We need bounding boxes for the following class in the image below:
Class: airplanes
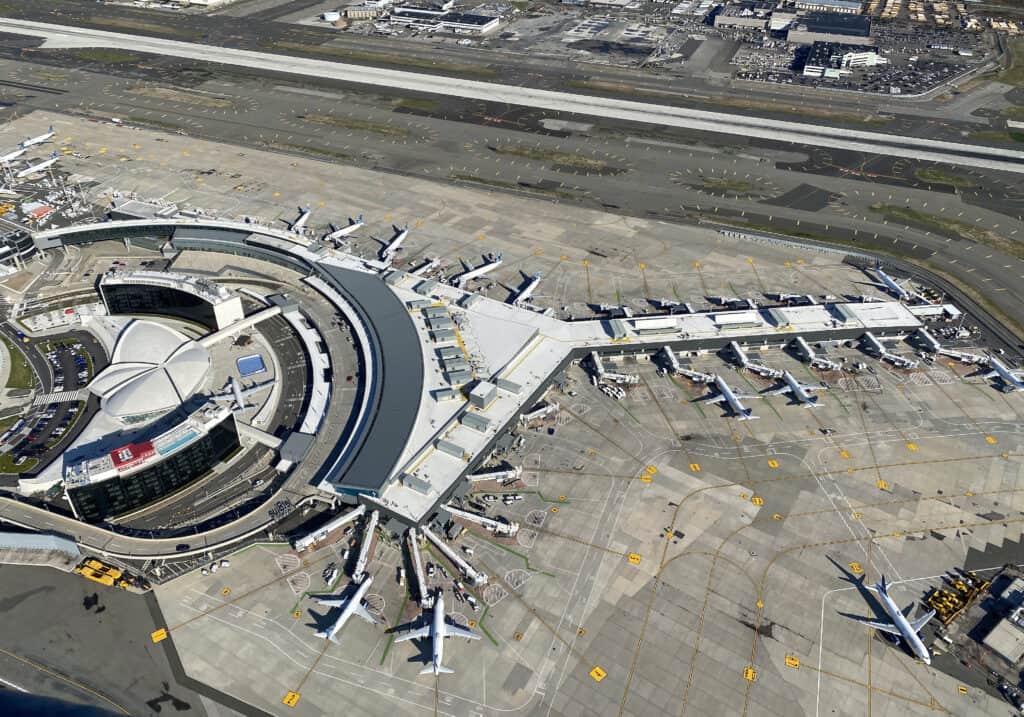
[704,375,763,419]
[206,377,266,412]
[316,579,381,645]
[983,359,1024,391]
[286,206,318,228]
[326,217,368,241]
[869,262,912,299]
[0,143,30,163]
[0,185,17,199]
[375,223,420,258]
[460,252,507,282]
[396,593,480,676]
[18,151,61,177]
[773,371,830,407]
[22,126,59,148]
[505,268,554,305]
[859,576,939,665]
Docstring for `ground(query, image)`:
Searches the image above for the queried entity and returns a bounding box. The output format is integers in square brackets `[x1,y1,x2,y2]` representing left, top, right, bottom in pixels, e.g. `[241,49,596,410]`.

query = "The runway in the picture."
[0,18,1024,173]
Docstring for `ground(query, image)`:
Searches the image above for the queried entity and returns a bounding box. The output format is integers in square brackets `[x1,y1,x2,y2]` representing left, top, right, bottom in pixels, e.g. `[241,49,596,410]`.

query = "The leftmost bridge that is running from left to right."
[0,486,300,565]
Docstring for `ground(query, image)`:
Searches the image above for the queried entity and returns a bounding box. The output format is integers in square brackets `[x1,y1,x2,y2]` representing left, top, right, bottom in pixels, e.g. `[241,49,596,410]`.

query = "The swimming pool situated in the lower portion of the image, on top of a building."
[162,429,201,452]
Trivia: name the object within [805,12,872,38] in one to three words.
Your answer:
hangar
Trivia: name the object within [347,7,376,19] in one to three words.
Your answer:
building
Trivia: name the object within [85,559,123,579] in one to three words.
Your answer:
vehicle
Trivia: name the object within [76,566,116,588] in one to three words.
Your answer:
vehicle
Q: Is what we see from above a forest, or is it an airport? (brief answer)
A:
airport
